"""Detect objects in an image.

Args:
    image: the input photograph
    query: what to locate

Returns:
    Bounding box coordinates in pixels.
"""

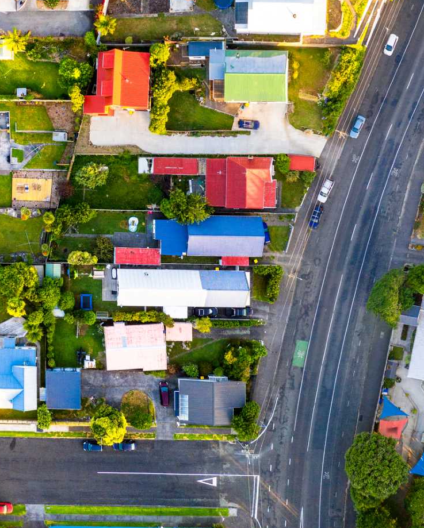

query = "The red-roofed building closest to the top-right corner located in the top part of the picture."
[289,155,315,171]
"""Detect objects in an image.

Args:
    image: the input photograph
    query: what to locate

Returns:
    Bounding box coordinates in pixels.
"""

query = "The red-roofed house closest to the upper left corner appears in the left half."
[83,47,151,116]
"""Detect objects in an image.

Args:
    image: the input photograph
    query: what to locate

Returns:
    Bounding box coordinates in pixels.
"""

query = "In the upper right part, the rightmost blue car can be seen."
[350,115,366,138]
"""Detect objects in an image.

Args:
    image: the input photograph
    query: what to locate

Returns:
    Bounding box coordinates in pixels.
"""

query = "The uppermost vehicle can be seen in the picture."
[384,33,398,56]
